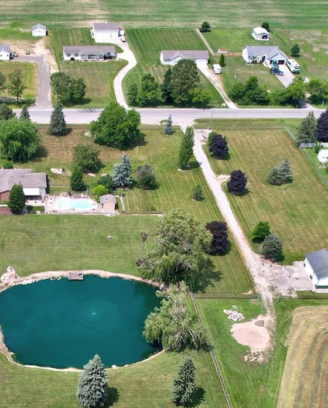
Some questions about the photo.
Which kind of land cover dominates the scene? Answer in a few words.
grass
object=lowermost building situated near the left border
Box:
[0,169,48,202]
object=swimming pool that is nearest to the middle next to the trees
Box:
[43,195,103,211]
